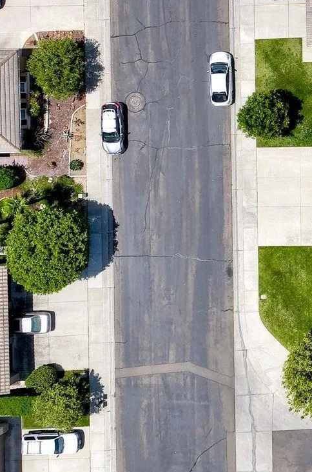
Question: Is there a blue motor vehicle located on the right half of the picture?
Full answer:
No, no blue motor vehicle is visible on the right half of the picture.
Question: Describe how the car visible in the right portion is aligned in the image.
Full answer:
The car visible in the right portion has been laid out up and down relative to the frame.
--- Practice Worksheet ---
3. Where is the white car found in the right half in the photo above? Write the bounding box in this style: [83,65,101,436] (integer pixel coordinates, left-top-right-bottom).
[208,51,235,106]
